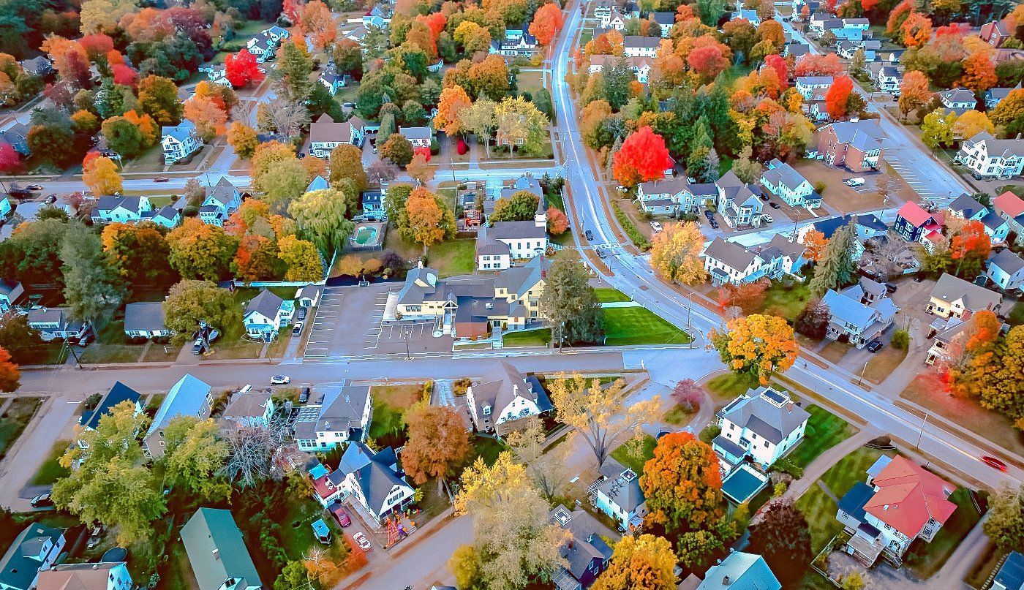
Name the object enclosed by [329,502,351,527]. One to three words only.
truck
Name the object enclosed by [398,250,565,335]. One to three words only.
building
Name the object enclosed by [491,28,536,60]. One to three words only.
house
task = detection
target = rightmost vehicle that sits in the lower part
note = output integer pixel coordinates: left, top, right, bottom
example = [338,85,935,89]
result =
[980,455,1008,473]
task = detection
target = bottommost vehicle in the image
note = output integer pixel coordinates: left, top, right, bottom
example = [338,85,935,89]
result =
[352,531,373,552]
